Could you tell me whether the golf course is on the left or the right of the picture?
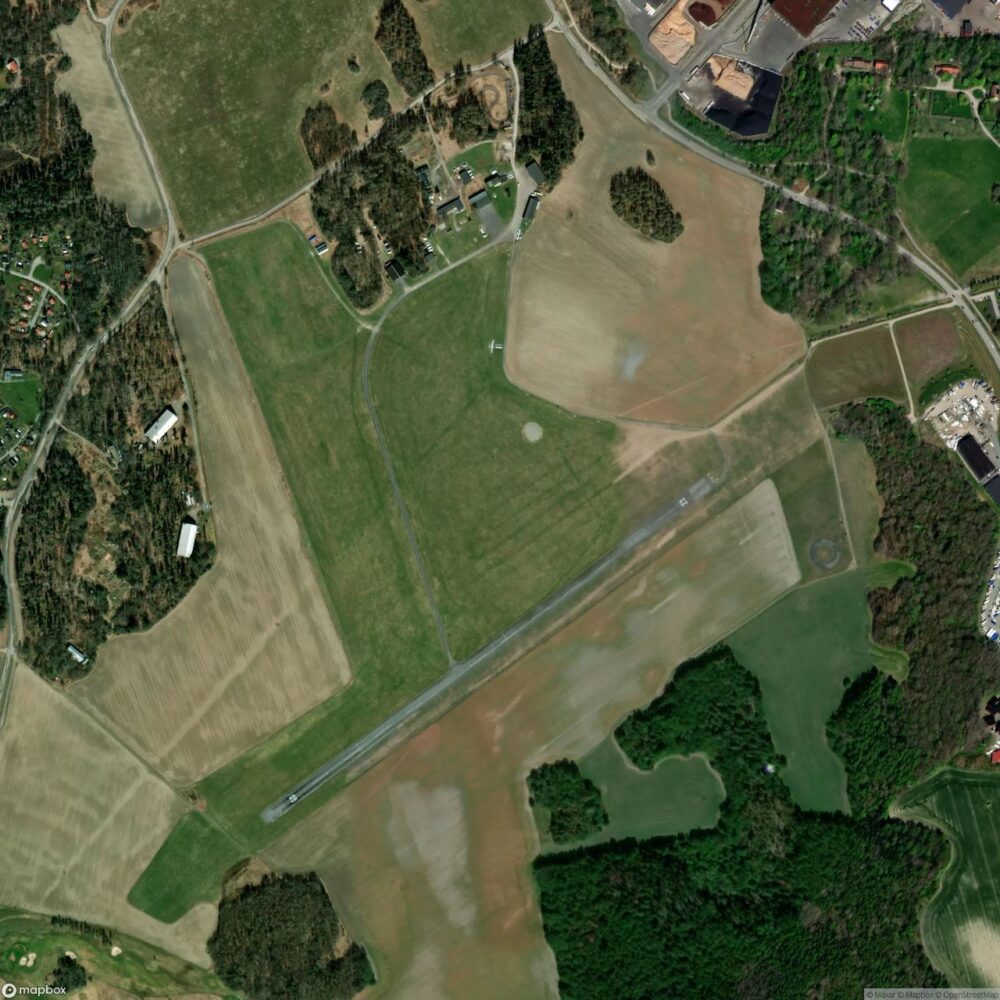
left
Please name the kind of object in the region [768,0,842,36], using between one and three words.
building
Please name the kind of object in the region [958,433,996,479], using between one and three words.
building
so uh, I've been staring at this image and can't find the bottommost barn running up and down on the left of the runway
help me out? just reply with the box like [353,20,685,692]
[177,522,196,558]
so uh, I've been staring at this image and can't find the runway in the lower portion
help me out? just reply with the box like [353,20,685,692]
[264,472,722,820]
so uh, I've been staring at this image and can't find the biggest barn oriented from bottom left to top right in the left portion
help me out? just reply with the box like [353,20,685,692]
[145,409,178,443]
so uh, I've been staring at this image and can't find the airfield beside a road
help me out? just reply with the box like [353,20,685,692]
[192,204,855,860]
